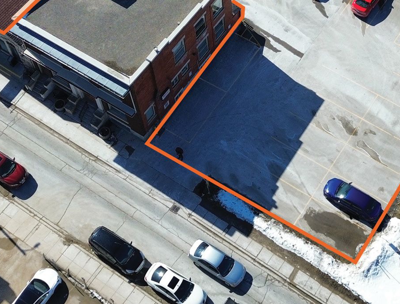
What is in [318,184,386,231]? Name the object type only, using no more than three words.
car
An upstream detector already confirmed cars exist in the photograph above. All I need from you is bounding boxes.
[7,270,65,304]
[86,229,148,276]
[143,265,210,304]
[353,0,380,18]
[185,241,250,289]
[318,184,386,231]
[0,154,34,193]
